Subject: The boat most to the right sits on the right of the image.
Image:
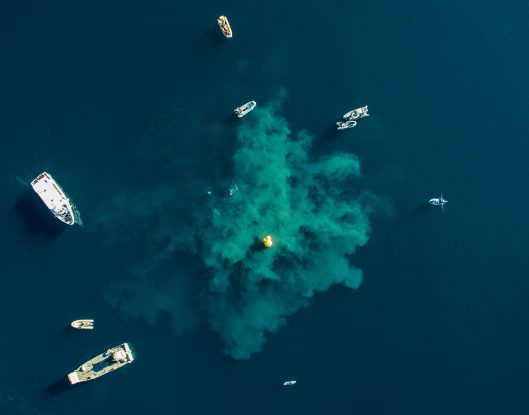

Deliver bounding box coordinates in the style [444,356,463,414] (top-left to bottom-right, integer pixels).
[428,190,450,212]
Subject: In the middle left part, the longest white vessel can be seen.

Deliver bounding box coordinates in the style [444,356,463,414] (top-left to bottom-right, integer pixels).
[31,173,75,221]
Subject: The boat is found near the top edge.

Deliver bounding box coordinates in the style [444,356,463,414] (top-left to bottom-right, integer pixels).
[216,13,232,38]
